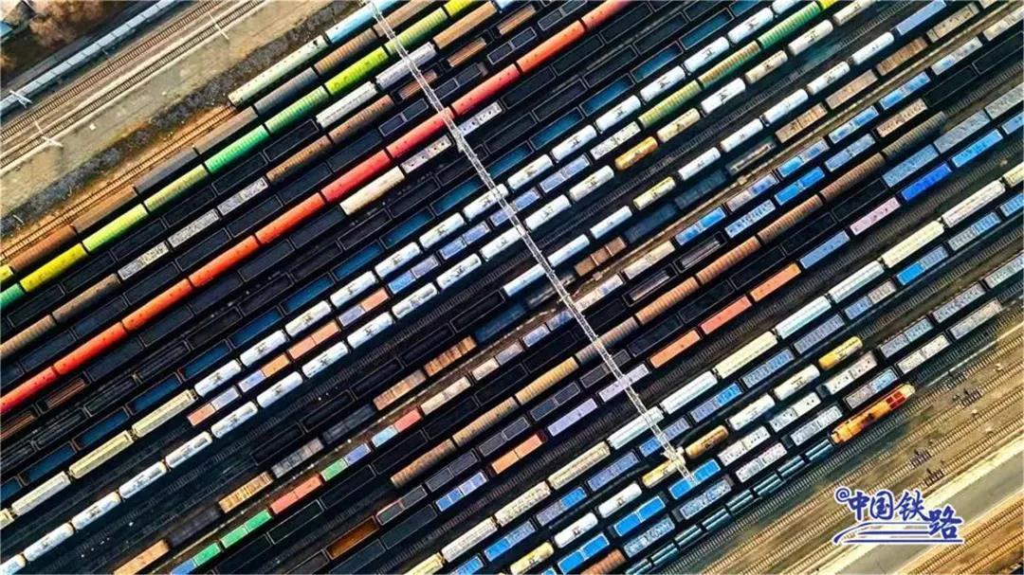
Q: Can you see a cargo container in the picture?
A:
Yes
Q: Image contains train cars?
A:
Yes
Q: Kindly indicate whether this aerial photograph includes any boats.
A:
Yes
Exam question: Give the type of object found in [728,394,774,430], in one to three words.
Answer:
rail car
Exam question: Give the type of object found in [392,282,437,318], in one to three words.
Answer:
rail car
